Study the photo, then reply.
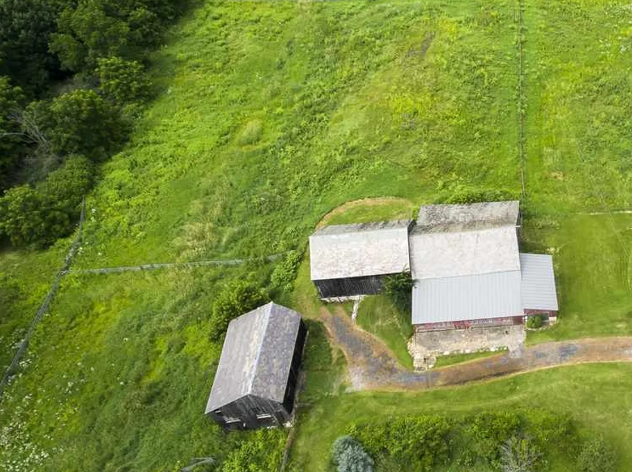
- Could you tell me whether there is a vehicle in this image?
No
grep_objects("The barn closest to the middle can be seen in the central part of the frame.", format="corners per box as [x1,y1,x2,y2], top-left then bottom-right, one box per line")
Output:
[310,219,412,303]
